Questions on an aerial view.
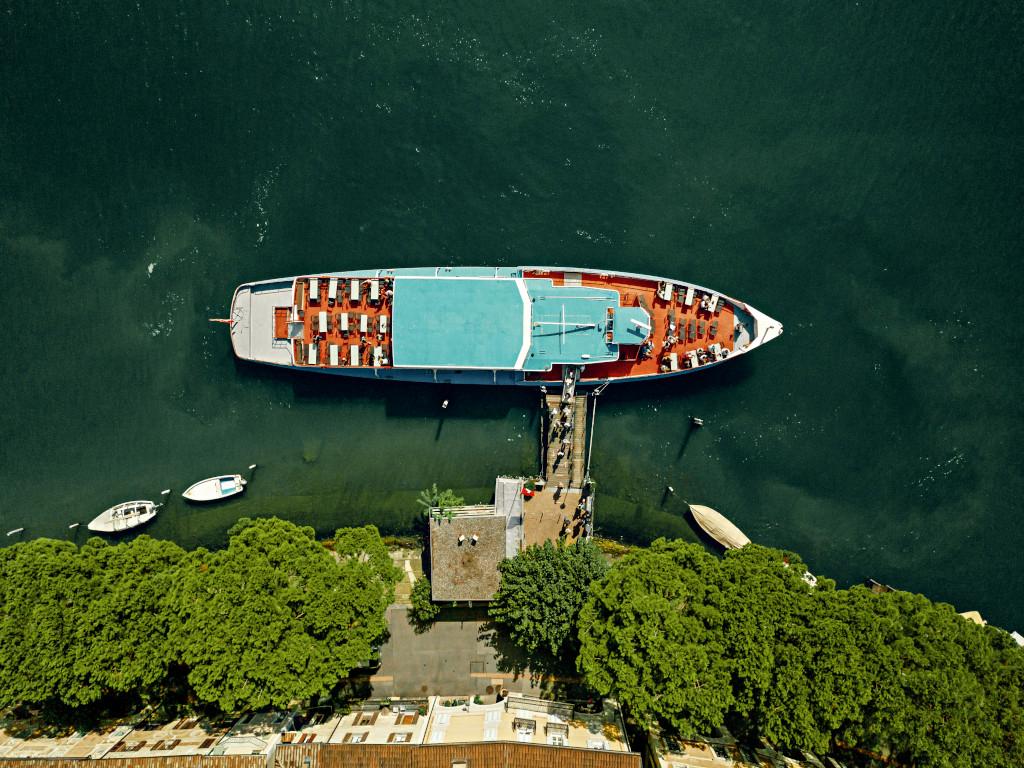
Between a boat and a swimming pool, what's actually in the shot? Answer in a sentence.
Visible in the photo is a boat.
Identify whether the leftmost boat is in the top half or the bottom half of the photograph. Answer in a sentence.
The bottom half of the photo is where the leftmost boat is.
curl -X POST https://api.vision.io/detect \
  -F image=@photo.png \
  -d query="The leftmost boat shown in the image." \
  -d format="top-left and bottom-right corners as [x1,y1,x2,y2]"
[86,502,162,532]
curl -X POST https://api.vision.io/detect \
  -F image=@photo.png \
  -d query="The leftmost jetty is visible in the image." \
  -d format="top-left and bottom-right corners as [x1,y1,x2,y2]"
[496,476,522,563]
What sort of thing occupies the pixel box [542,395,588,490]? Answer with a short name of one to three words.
pier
